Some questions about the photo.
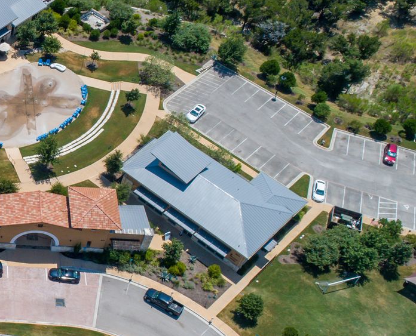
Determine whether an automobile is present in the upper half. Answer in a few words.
Yes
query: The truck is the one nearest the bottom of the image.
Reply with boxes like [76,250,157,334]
[144,292,185,318]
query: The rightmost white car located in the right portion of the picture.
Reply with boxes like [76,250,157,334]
[313,179,327,203]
